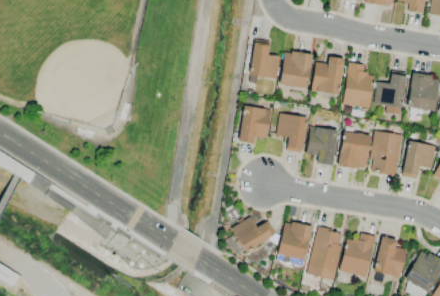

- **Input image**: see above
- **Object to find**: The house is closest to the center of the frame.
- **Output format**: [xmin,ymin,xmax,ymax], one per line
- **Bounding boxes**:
[240,106,271,142]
